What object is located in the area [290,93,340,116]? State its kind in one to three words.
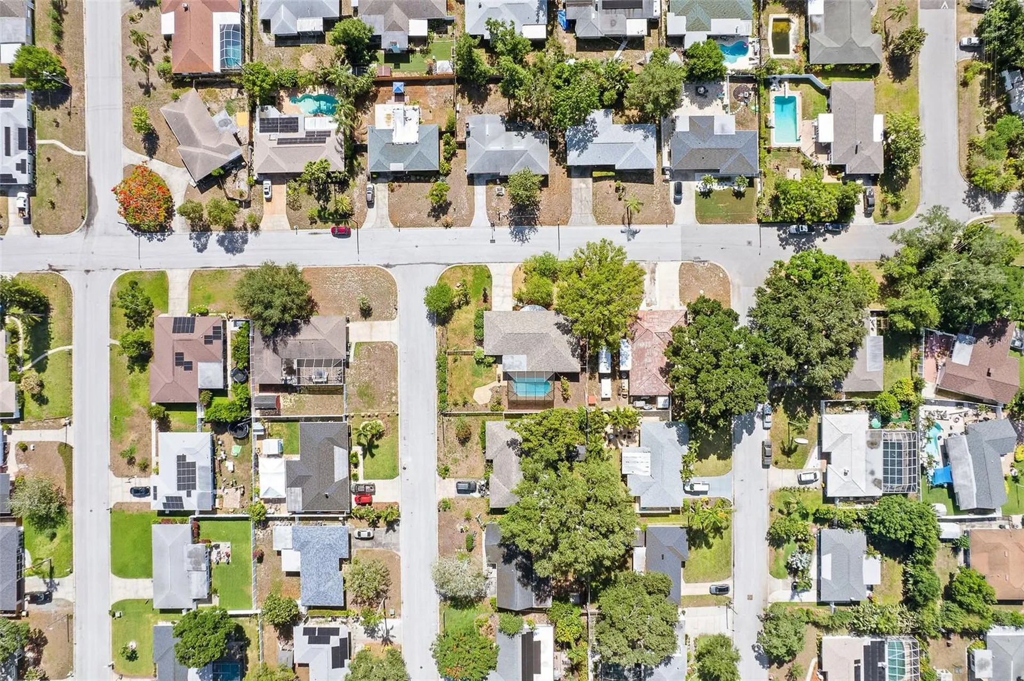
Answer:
swimming pool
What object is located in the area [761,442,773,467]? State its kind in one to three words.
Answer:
vehicle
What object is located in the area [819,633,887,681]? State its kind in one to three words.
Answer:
house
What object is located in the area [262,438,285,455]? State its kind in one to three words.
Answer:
shed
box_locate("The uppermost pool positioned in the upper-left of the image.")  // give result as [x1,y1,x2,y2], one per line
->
[221,27,241,67]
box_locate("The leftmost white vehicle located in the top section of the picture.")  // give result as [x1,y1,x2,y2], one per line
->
[16,193,29,218]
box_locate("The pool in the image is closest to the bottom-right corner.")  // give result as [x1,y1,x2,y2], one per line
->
[888,640,908,681]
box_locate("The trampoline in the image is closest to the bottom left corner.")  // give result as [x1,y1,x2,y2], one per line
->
[228,418,249,439]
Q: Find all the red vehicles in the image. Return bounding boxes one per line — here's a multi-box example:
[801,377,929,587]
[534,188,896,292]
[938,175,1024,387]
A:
[354,495,374,505]
[331,226,351,236]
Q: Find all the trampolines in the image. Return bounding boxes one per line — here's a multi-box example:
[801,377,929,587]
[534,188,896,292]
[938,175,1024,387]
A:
[228,368,248,384]
[228,418,249,439]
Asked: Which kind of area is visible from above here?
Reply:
residential area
